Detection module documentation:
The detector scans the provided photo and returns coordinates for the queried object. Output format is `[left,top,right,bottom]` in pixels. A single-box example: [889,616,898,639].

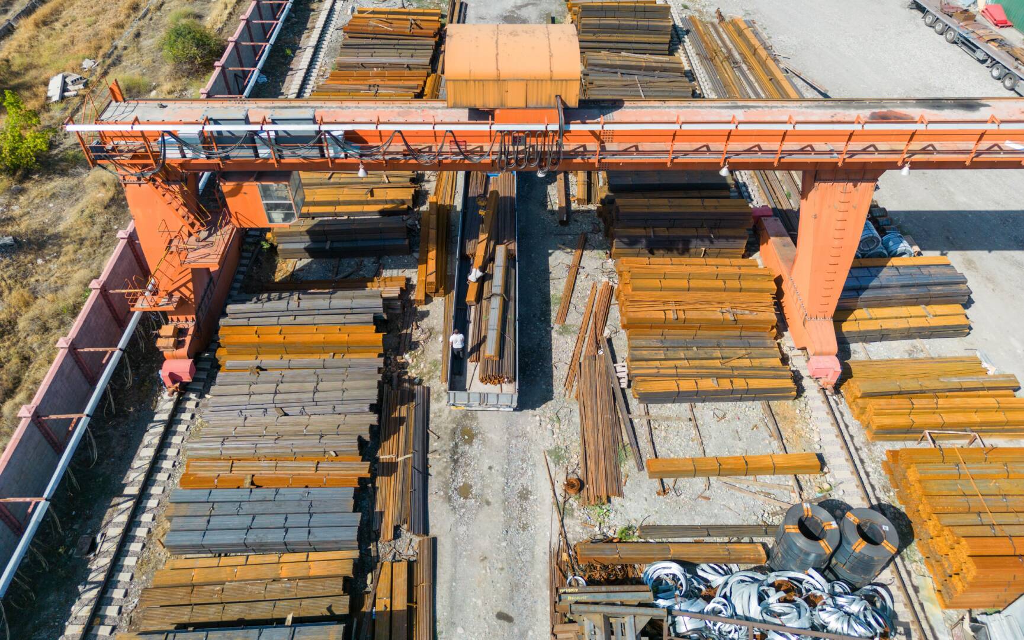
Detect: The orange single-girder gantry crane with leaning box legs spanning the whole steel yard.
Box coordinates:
[58,69,1024,394]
